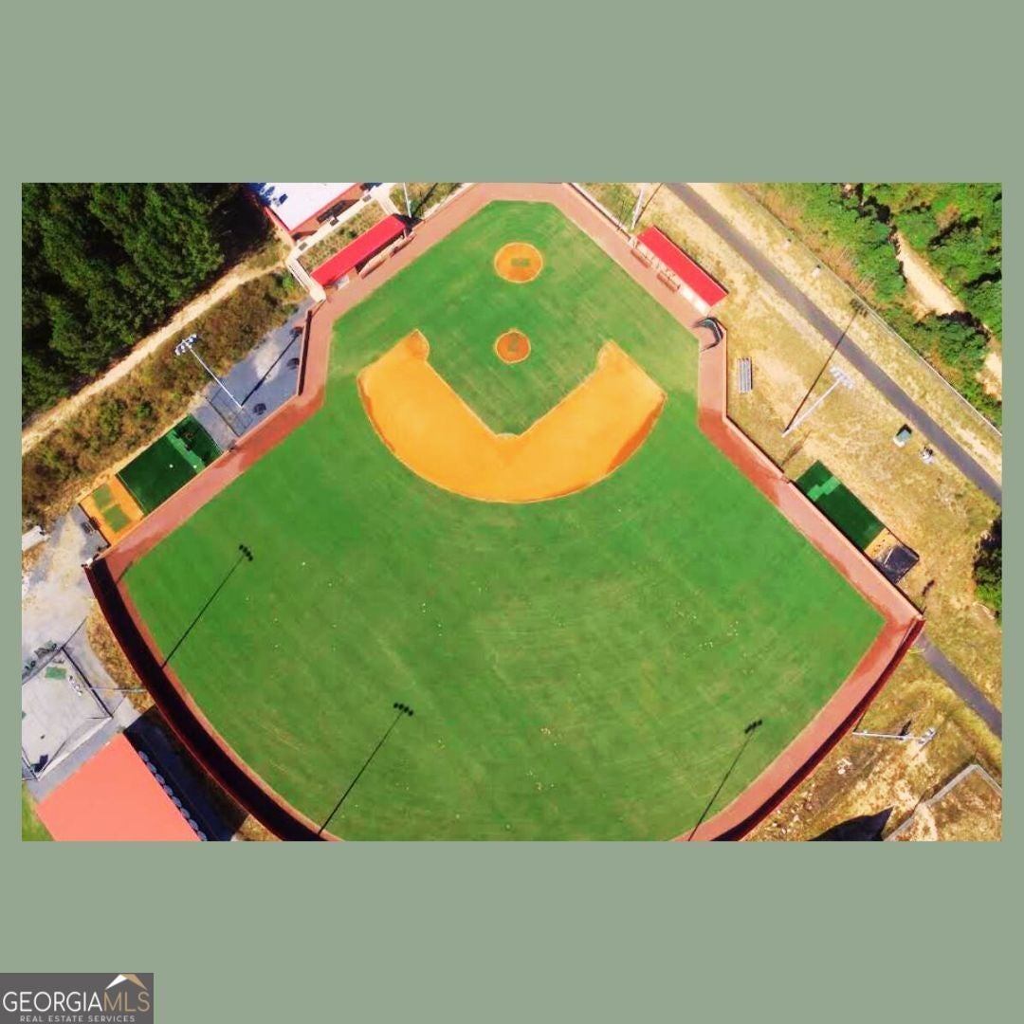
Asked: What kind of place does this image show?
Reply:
sports ground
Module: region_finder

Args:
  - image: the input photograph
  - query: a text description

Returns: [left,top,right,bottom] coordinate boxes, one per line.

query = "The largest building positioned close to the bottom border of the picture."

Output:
[36,733,273,1001]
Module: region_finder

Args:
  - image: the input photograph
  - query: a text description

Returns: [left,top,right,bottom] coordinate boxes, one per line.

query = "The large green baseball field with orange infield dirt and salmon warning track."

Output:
[96,182,924,925]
